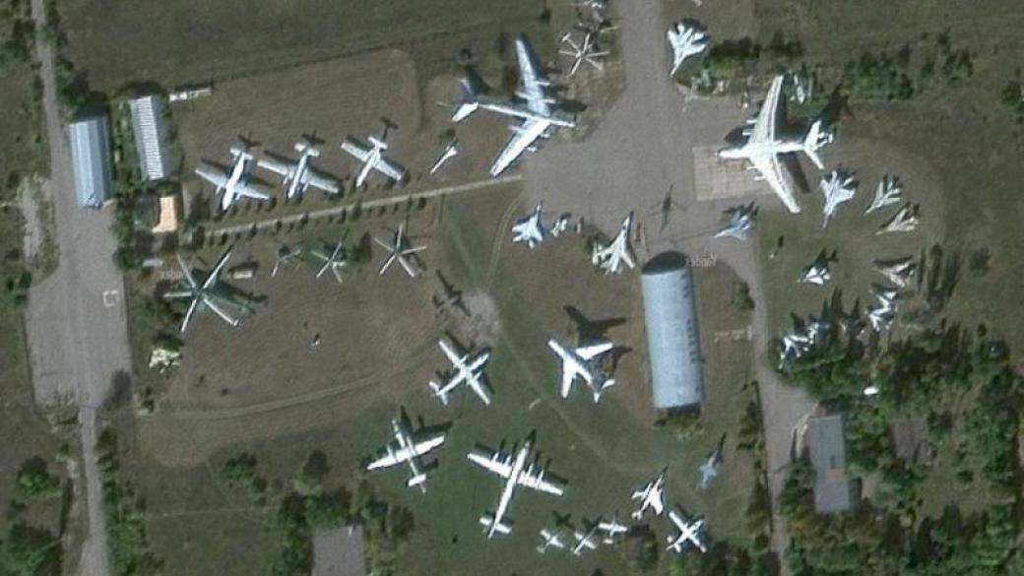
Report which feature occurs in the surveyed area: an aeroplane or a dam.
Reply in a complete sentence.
Of the two, only an aeroplane appears.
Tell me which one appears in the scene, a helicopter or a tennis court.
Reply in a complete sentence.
Visible in the photo is a helicopter.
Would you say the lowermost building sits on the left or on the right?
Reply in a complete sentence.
You can find the lowermost building on the left side of the picture.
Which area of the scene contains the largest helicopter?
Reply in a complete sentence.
The largest helicopter is located in the left region of the scene.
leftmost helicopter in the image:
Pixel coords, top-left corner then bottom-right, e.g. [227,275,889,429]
[160,252,250,335]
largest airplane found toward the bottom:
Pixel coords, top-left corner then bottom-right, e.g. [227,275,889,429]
[466,440,560,539]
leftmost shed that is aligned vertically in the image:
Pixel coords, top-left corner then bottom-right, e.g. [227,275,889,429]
[68,116,119,208]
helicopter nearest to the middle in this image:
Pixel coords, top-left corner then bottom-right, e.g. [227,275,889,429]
[375,224,424,279]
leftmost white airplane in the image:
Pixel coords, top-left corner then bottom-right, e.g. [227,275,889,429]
[195,147,269,211]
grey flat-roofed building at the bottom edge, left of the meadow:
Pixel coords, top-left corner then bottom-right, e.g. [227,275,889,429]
[312,528,371,576]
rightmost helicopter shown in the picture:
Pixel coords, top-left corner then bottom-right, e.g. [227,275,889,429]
[645,181,688,236]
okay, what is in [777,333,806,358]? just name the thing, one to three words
airplane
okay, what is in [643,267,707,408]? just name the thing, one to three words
hangar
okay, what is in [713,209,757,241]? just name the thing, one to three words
airplane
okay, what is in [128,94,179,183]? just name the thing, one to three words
building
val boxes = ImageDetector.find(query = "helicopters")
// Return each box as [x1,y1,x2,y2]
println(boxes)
[160,252,250,335]
[573,3,616,53]
[269,243,302,276]
[555,26,608,80]
[645,181,688,236]
[313,241,357,284]
[375,224,424,279]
